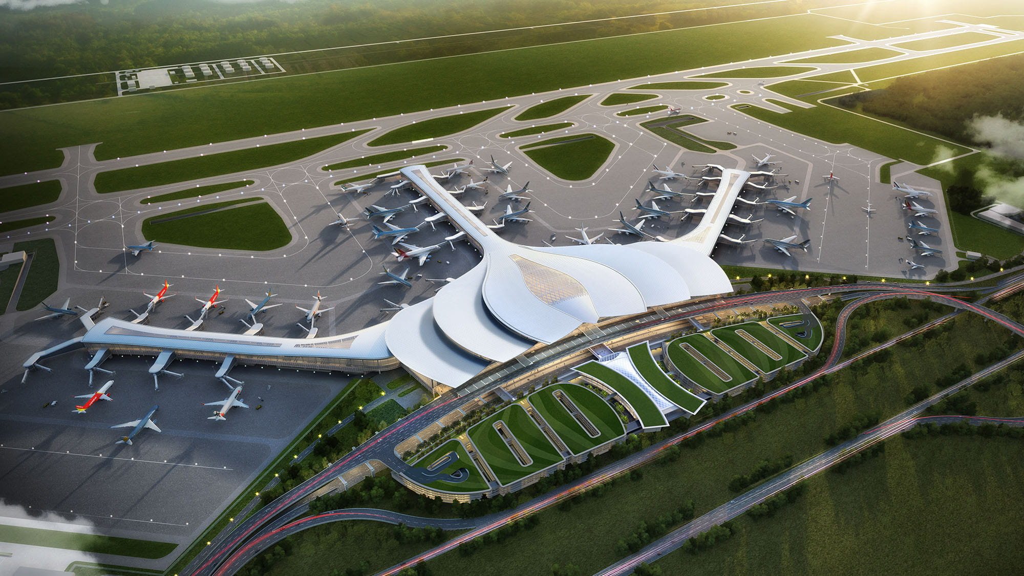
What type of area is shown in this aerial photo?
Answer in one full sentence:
This image shows an airport.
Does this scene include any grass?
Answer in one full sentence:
Yes, grass shows up in the scene.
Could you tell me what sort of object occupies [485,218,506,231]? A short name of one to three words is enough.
jet bridge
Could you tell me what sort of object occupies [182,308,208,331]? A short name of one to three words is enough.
jet bridge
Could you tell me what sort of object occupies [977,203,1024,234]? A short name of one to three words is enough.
hangar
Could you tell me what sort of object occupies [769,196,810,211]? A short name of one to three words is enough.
airplane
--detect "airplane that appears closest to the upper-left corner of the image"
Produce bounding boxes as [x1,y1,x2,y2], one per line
[126,240,158,255]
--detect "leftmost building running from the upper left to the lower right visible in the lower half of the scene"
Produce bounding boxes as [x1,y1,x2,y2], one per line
[463,437,498,492]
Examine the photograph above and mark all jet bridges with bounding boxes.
[603,236,617,245]
[750,168,789,178]
[20,339,83,385]
[720,233,759,245]
[447,185,467,195]
[438,233,467,252]
[295,317,318,338]
[238,312,265,335]
[691,164,723,173]
[746,181,779,191]
[368,172,401,183]
[384,181,409,198]
[379,298,407,313]
[730,213,766,225]
[683,192,714,203]
[685,176,721,187]
[540,239,553,246]
[127,302,155,324]
[424,278,455,283]
[213,356,246,393]
[82,349,117,389]
[182,308,208,331]
[670,209,706,221]
[147,351,185,392]
[416,214,446,231]
[737,197,771,207]
[73,296,104,328]
[431,170,456,181]
[485,218,506,231]
[465,200,488,212]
